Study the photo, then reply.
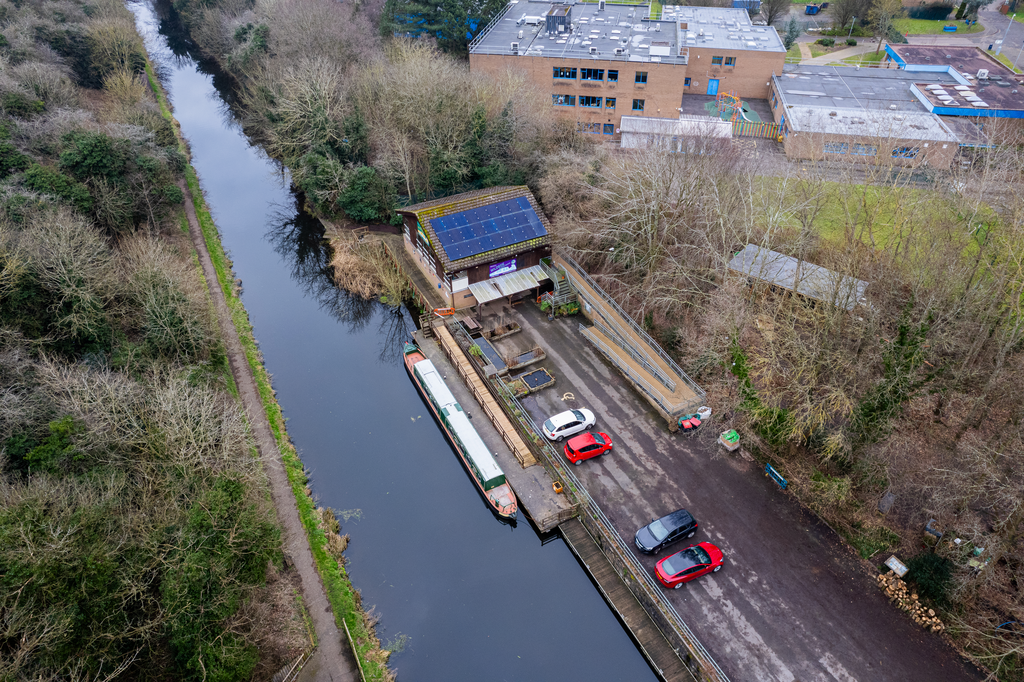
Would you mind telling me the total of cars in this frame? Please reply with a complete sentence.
The number of cars here is 4.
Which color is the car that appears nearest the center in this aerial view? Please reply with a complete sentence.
The car that appears nearest the center looks white in the image.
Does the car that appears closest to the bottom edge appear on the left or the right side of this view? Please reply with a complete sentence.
The car that appears closest to the bottom edge sits on the right side.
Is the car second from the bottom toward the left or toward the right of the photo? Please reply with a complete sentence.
The car second from the bottom sits on the right side.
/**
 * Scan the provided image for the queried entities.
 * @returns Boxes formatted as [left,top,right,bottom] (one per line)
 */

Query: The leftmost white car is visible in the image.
[541,408,599,442]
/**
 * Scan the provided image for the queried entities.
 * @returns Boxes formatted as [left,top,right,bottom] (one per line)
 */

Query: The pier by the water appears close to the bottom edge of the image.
[555,520,695,682]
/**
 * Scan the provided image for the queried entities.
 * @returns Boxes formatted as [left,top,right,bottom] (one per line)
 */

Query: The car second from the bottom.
[632,507,702,557]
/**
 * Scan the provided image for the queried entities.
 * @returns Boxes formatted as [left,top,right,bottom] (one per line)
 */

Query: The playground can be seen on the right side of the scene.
[680,92,776,126]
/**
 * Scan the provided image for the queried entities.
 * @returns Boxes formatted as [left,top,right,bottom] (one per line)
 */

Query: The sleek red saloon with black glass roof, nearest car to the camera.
[653,540,730,593]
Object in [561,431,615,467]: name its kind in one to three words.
car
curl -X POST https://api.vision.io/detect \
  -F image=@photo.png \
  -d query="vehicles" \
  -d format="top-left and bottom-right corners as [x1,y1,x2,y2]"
[561,431,615,467]
[541,408,599,442]
[653,540,730,593]
[632,507,702,557]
